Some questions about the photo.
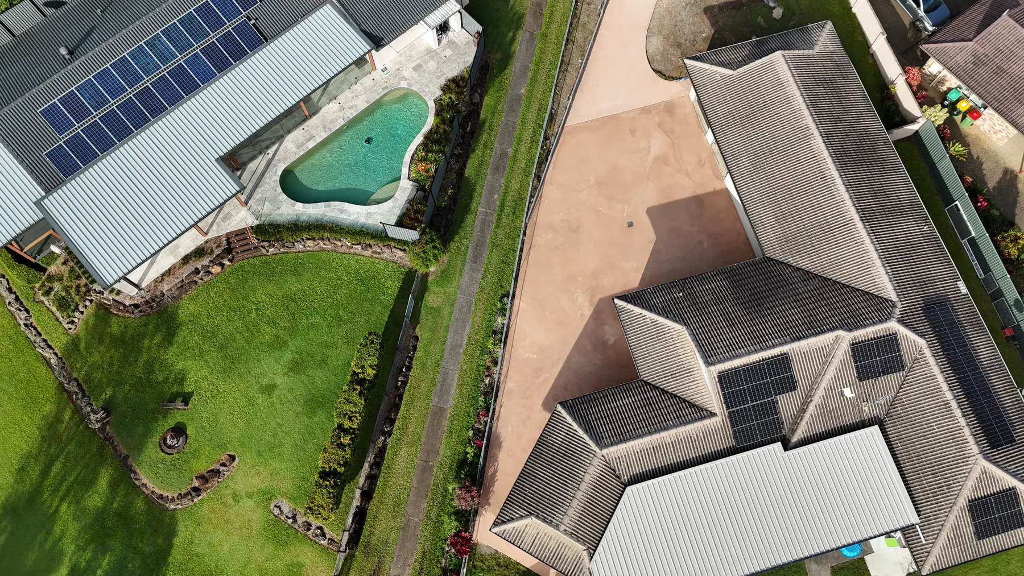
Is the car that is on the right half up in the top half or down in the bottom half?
top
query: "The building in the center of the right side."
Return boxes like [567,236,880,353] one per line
[490,19,1024,576]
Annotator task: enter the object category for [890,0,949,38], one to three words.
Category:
car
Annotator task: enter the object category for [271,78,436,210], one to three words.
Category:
swimming pool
